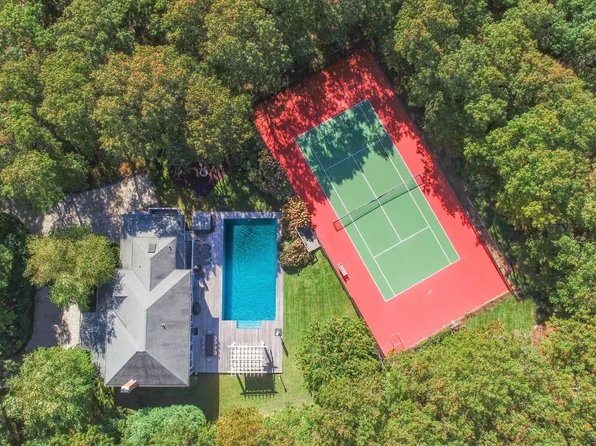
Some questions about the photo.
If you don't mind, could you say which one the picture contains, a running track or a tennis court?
tennis court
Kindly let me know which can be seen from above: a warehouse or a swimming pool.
swimming pool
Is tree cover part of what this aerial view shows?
Yes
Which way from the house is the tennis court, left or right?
right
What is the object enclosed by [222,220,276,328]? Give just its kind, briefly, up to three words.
swimming pool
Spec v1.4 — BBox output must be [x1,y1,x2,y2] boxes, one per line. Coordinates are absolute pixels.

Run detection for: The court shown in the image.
[249,44,509,360]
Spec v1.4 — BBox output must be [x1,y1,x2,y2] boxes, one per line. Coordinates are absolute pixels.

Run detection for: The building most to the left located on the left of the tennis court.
[81,206,198,392]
